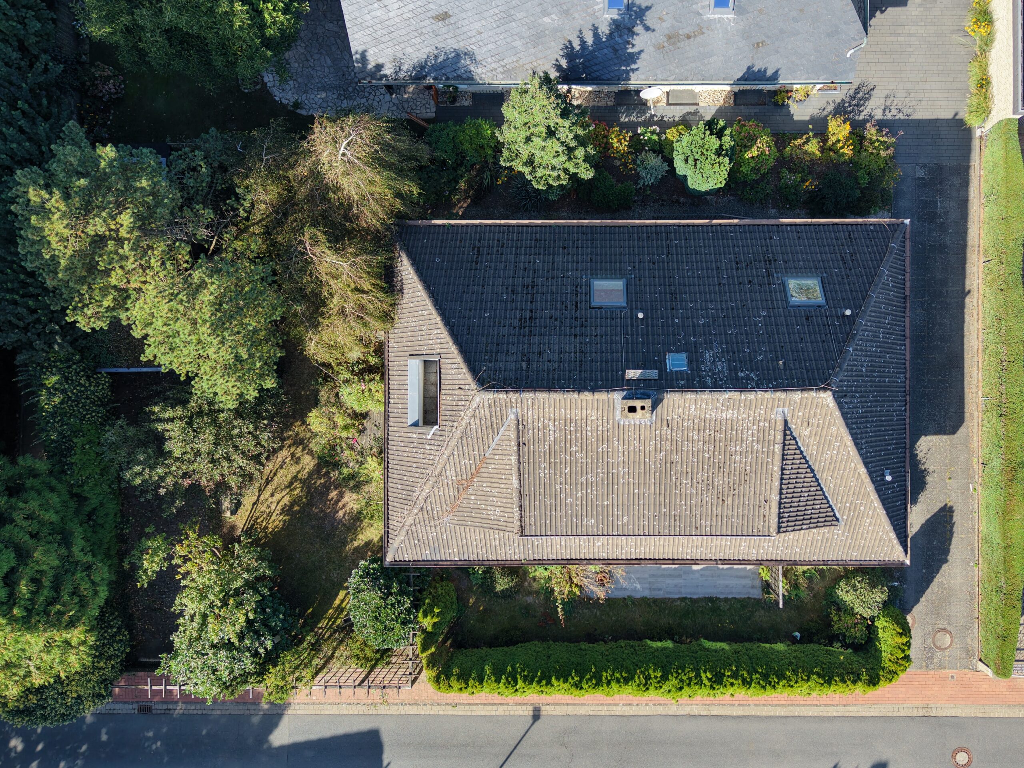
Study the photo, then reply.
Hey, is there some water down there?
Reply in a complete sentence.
No, there is no water in the image.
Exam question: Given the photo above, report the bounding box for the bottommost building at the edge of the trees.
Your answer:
[385,220,912,566]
